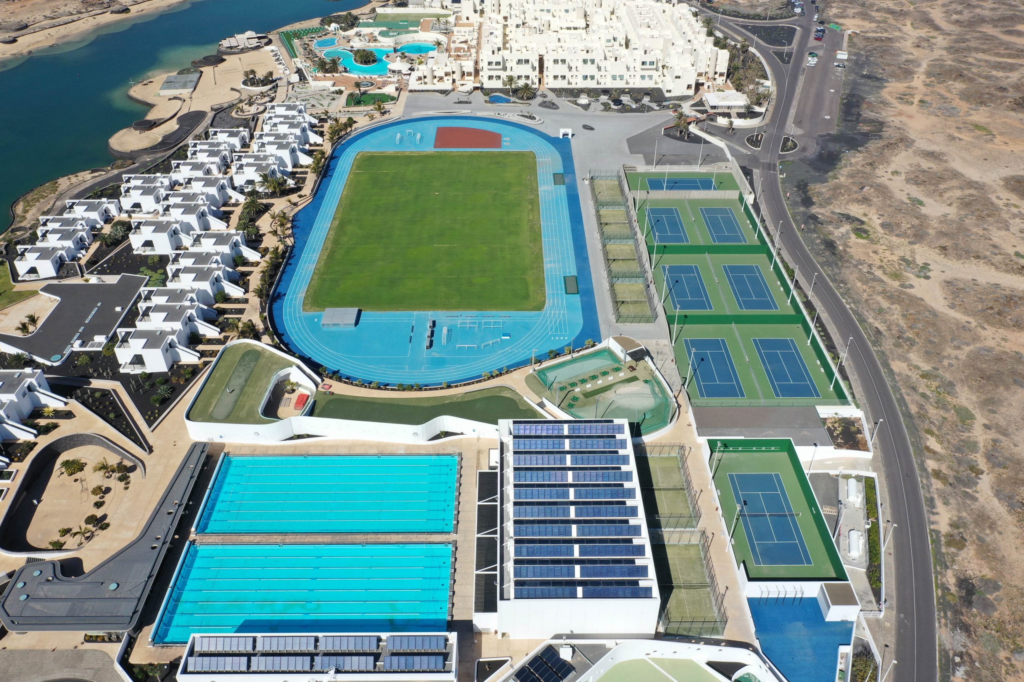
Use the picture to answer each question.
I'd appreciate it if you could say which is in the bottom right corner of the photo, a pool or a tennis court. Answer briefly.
tennis court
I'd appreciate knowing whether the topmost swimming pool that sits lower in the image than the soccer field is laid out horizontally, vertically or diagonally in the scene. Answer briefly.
horizontally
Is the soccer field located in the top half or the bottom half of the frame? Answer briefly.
top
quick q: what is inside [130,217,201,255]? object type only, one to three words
house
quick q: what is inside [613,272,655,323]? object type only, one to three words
sports court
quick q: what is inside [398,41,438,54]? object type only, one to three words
swimming pool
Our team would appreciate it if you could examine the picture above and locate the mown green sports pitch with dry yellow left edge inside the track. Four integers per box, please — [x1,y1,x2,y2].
[303,151,544,311]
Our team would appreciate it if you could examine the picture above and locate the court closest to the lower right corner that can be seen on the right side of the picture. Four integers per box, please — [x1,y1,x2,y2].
[744,578,858,682]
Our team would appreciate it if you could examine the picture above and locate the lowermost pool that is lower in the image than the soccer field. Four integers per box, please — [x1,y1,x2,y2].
[144,538,457,646]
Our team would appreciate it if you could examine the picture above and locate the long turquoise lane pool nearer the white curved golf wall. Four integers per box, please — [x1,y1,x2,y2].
[188,449,463,536]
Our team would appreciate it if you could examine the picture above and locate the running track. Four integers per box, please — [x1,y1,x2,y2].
[273,116,601,387]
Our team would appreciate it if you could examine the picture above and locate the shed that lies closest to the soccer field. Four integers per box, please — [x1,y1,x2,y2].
[320,307,364,327]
